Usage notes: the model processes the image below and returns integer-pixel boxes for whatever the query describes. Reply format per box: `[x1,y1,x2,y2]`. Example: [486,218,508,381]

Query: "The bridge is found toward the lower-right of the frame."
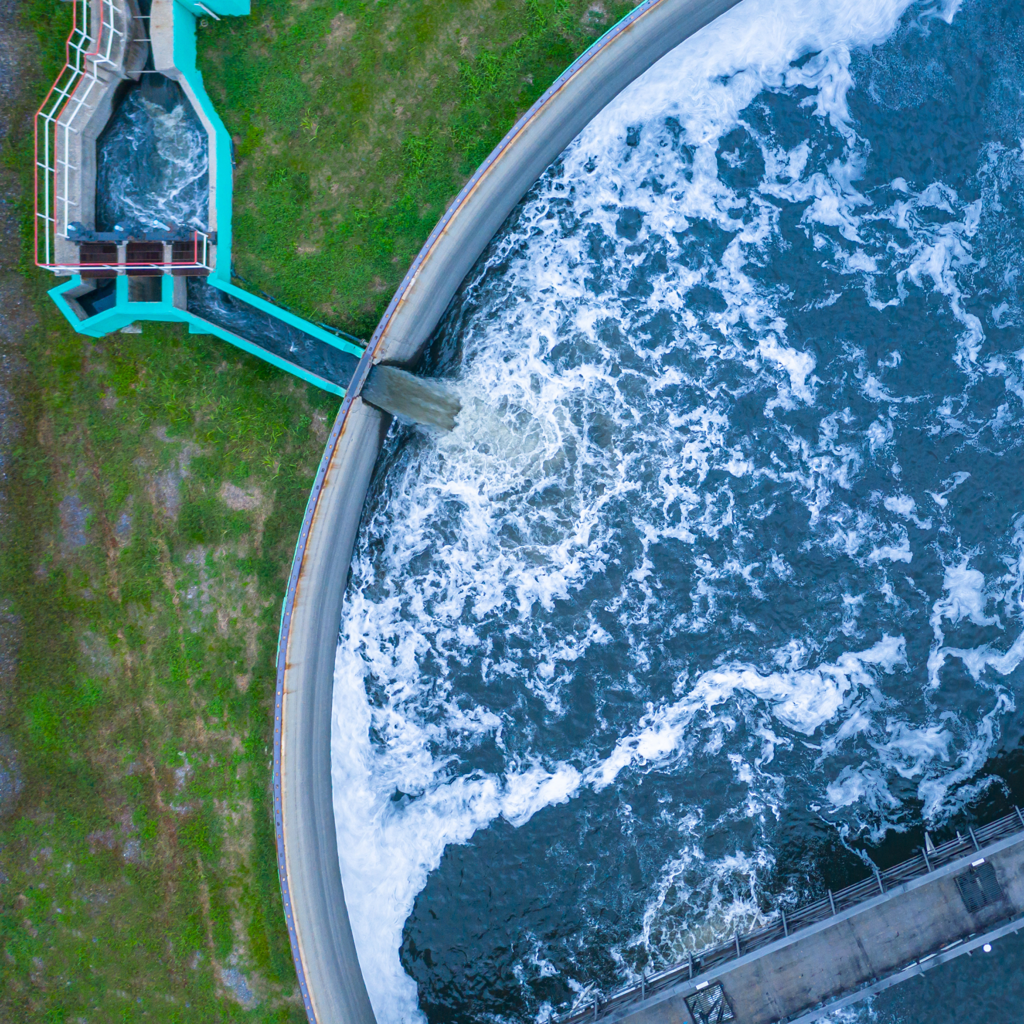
[528,803,1024,1024]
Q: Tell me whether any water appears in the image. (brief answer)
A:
Yes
